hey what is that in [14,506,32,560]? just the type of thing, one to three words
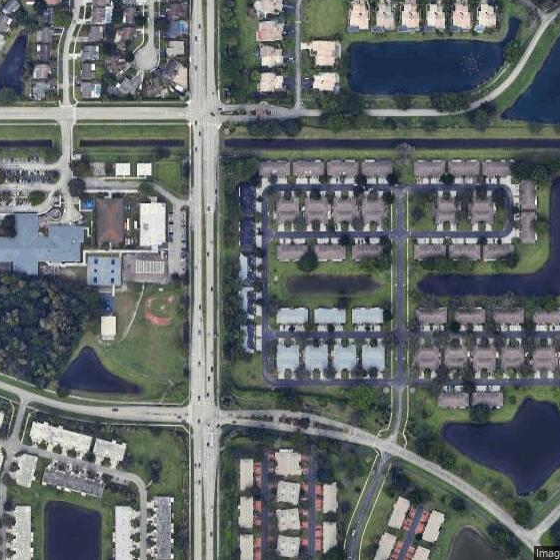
building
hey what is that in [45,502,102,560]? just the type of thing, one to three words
pond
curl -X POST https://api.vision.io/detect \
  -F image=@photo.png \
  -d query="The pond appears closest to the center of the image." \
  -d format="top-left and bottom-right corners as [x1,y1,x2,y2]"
[287,275,379,295]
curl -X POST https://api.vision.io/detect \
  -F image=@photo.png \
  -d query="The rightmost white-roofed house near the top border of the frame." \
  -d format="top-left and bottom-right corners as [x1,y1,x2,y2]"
[475,5,496,32]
